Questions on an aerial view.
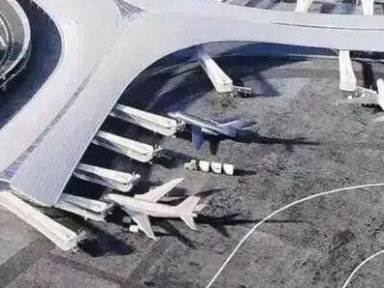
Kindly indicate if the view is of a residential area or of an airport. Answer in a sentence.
It's an airport.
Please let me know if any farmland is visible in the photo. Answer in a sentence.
No, there is no farmland in the image.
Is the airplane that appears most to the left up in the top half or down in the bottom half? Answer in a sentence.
The airplane that appears most to the left sits in the bottom half of the picture.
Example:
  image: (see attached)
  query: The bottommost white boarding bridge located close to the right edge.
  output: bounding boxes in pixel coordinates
[336,55,375,100]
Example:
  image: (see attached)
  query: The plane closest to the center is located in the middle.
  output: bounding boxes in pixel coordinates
[169,107,248,151]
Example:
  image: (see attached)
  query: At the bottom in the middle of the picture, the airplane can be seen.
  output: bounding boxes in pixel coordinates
[105,180,202,240]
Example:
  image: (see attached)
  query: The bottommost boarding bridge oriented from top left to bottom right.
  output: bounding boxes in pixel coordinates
[0,198,91,261]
